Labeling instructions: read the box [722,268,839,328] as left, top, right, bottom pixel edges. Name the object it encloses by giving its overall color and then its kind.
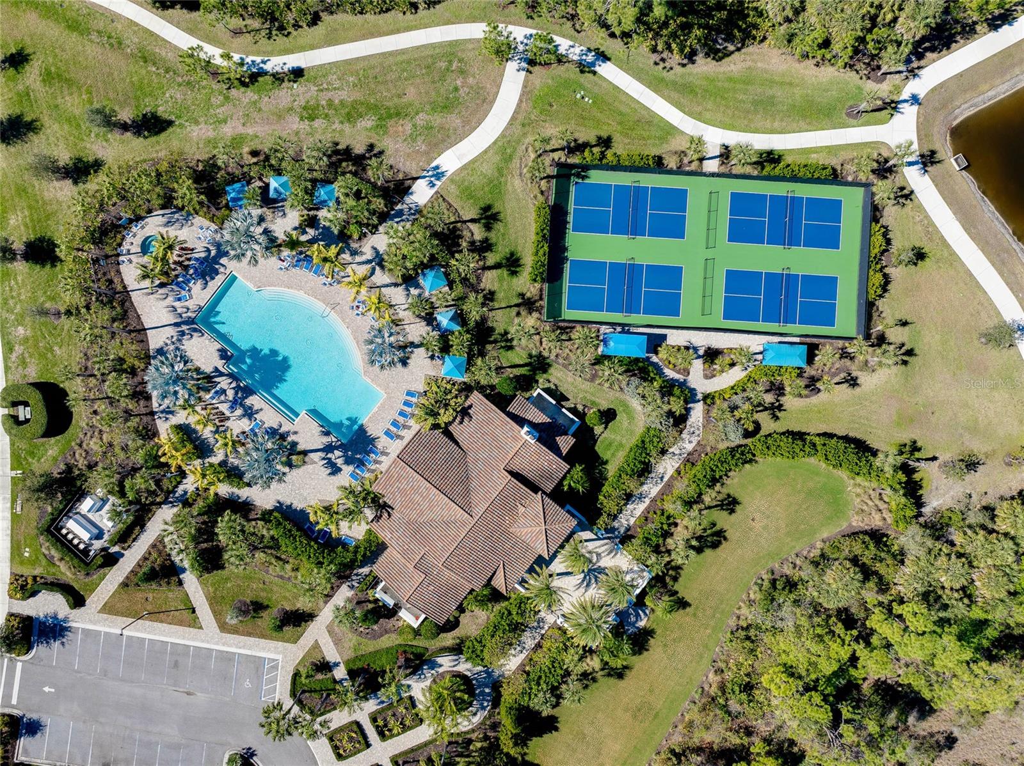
blue sports court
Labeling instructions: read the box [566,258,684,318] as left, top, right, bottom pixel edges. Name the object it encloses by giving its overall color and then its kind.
blue sports court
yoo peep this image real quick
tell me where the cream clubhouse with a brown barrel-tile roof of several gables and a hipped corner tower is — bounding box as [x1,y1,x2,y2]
[369,390,580,630]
